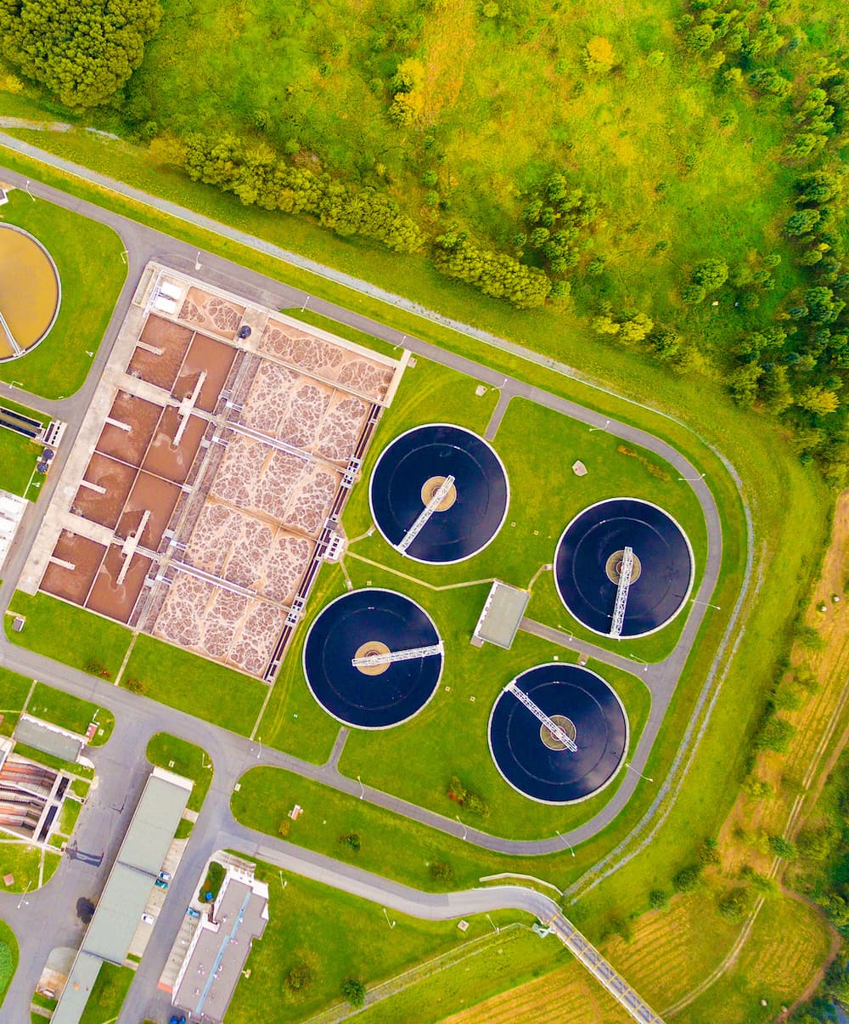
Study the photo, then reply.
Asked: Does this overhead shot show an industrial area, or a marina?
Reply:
industrial area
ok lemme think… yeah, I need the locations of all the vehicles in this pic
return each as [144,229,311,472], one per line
[156,878,168,888]
[170,1013,179,1024]
[186,906,200,917]
[177,1013,187,1024]
[159,869,171,879]
[141,912,155,925]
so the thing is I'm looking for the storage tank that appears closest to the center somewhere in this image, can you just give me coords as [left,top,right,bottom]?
[368,423,511,565]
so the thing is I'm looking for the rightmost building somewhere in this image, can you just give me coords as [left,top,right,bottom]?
[471,581,531,650]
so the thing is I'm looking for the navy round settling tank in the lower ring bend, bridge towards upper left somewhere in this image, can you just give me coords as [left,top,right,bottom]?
[487,662,630,805]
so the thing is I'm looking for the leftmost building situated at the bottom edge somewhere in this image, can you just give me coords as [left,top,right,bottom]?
[49,766,191,1024]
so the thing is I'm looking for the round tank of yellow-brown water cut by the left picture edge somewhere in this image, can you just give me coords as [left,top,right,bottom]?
[0,221,62,362]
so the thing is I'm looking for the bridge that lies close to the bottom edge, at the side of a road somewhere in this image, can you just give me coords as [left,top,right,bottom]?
[540,913,668,1024]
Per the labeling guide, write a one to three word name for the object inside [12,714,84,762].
building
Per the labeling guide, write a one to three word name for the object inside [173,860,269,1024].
building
